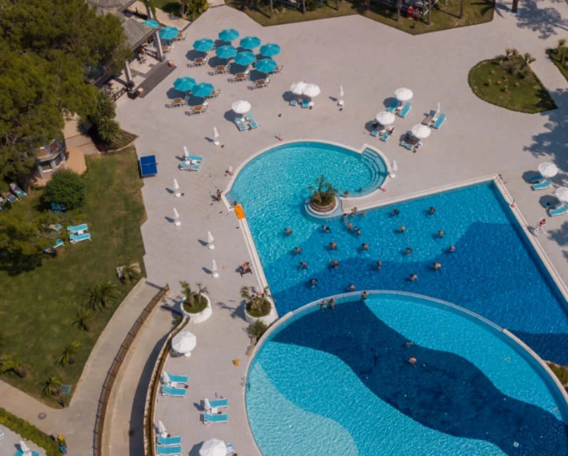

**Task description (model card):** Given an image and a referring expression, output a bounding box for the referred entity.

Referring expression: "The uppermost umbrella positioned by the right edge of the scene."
[537,165,558,181]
